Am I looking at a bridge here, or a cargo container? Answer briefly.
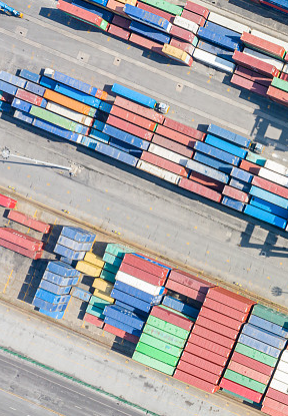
cargo container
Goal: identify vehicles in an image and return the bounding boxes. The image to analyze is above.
[155,102,171,113]
[250,142,265,154]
